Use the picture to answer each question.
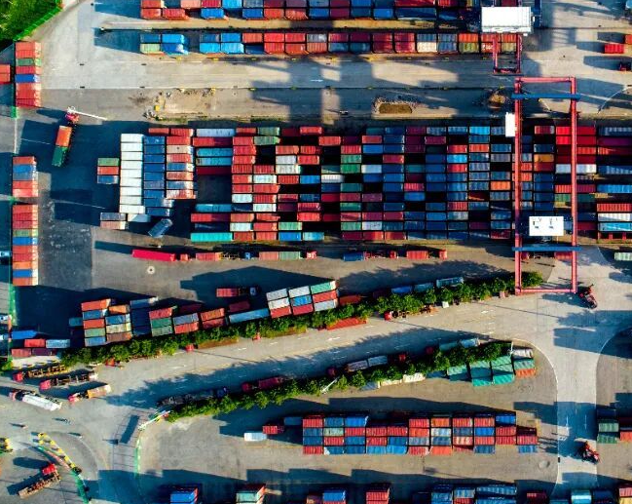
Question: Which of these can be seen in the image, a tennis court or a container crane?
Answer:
container crane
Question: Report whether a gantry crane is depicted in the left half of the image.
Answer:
No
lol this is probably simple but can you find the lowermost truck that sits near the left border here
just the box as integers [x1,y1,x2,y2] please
[20,466,71,498]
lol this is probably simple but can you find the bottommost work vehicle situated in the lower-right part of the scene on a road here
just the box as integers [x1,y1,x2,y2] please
[566,430,600,465]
